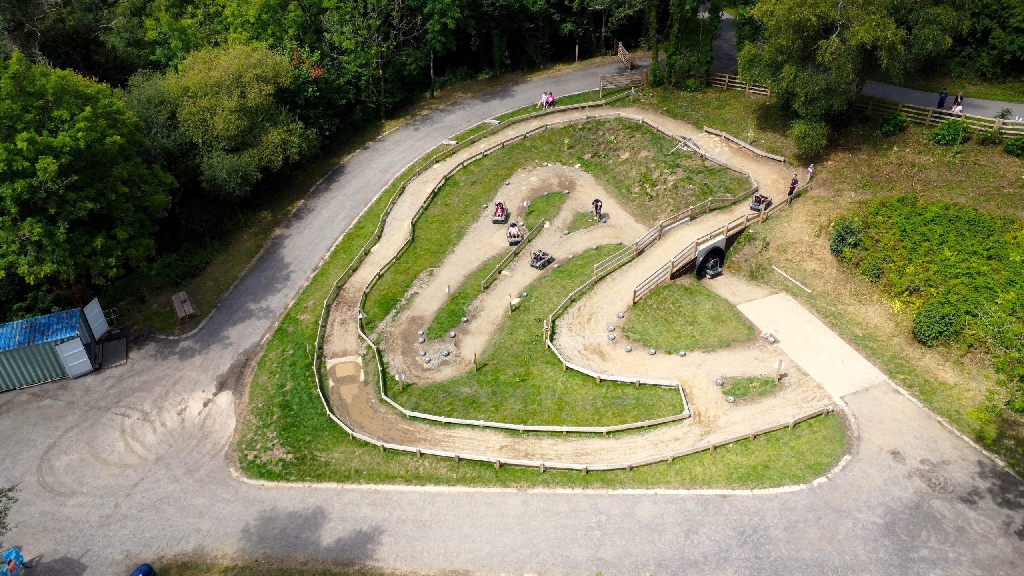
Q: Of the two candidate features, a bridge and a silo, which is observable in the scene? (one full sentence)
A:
There is a bridge in the scene.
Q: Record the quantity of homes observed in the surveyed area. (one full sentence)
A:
No homes are visible.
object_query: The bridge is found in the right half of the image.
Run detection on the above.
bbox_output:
[576,194,787,312]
